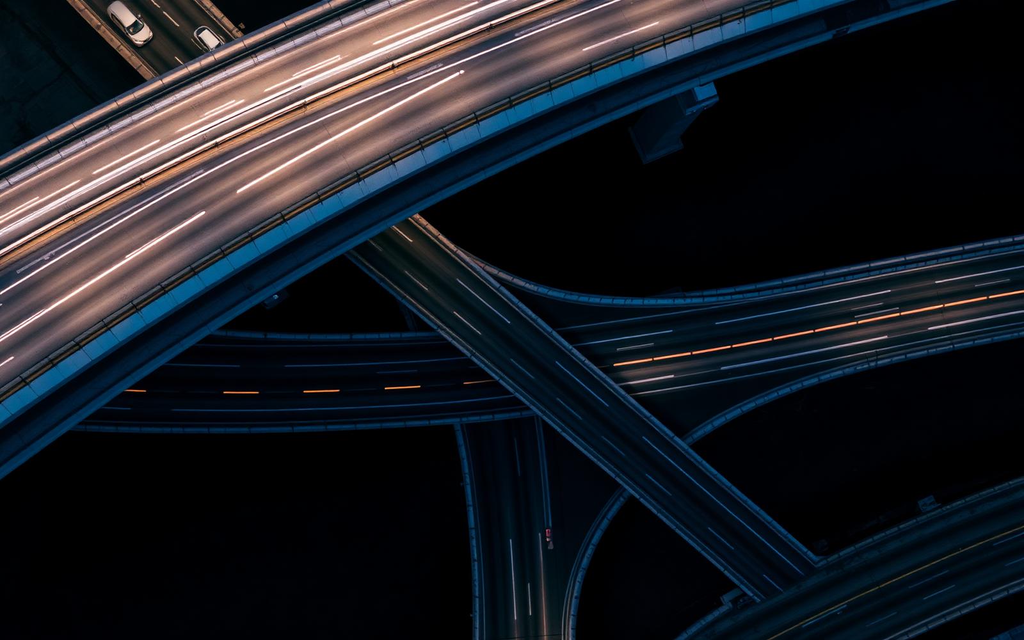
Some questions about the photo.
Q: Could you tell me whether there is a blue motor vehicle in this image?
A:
No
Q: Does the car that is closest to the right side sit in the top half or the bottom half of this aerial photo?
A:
top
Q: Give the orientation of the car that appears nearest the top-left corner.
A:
diagonally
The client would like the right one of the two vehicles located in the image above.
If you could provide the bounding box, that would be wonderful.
[194,26,226,52]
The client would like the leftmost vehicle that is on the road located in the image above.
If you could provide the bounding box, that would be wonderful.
[108,1,153,46]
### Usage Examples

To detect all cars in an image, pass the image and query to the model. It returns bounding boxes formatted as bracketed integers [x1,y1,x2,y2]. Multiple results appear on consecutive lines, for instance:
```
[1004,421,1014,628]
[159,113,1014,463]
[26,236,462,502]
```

[194,26,226,52]
[108,1,153,46]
